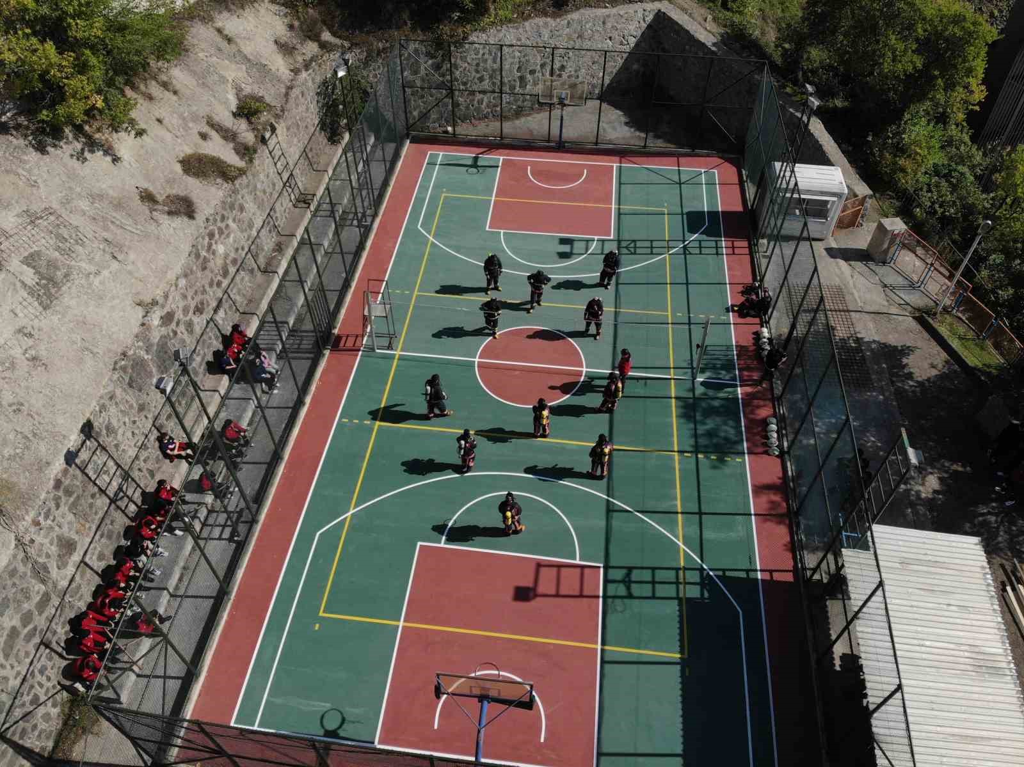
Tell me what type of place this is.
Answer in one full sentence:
The area seen from above is a sports ground.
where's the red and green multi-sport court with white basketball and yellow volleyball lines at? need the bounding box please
[171,136,832,767]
